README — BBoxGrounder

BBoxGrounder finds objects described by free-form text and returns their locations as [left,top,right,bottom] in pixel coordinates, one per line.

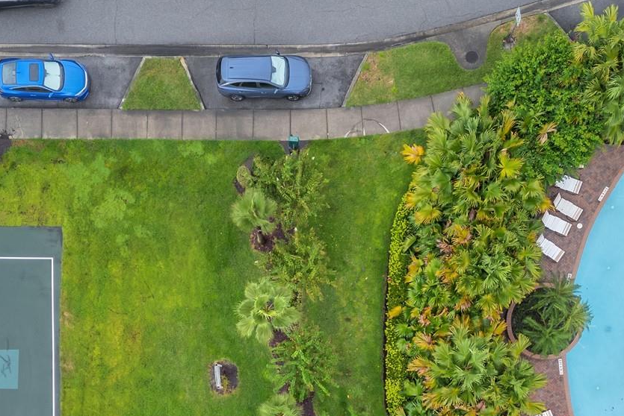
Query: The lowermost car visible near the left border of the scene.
[0,55,87,105]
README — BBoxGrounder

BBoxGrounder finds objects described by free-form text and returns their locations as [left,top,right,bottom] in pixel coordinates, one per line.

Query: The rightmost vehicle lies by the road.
[218,50,313,103]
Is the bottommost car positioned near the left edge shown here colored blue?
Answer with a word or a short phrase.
Yes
